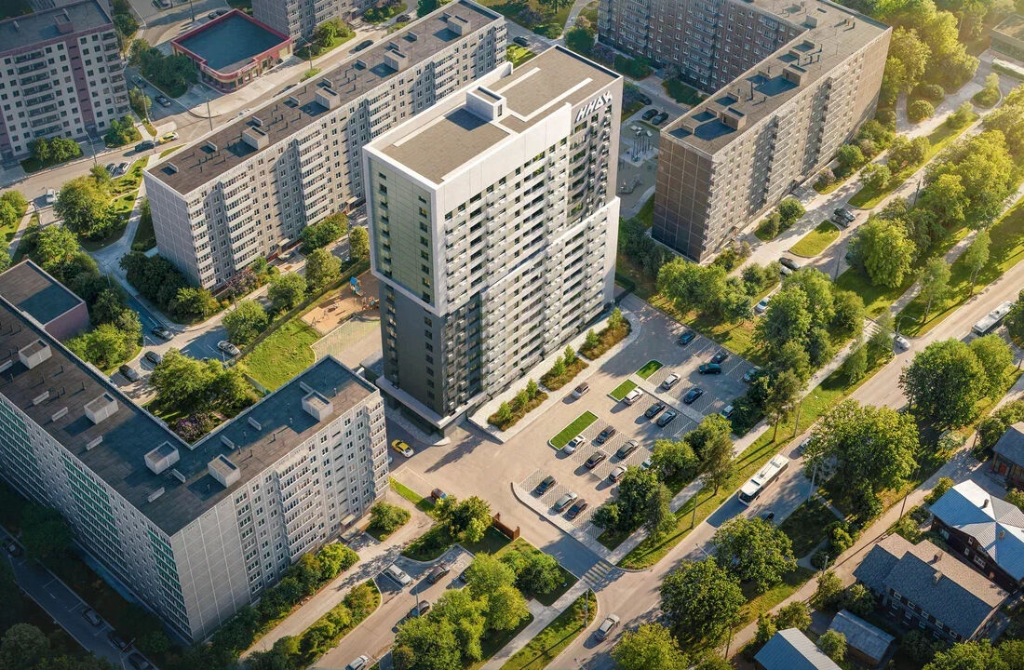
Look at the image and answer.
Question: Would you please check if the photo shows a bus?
Yes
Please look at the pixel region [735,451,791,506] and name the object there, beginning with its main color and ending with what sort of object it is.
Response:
white bus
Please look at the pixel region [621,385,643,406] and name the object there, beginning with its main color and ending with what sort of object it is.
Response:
white car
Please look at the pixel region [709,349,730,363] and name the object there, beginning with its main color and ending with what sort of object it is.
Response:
black car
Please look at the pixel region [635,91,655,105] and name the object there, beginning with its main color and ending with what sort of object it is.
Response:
black car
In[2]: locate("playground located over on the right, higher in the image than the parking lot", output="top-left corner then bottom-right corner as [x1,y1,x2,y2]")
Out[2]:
[617,106,675,216]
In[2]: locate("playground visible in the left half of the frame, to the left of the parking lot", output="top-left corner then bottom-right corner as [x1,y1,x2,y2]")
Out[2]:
[298,265,372,337]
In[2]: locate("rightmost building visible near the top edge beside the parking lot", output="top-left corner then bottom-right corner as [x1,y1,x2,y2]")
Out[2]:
[600,0,893,255]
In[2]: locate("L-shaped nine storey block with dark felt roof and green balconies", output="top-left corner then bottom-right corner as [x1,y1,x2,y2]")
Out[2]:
[0,296,393,643]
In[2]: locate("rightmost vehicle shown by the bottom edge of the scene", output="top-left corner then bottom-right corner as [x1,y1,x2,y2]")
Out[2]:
[594,614,620,639]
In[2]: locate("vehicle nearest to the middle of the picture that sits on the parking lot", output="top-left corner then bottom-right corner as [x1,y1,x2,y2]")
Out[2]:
[570,382,591,400]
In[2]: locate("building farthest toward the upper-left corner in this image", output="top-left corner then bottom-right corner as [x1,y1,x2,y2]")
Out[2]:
[0,2,133,164]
